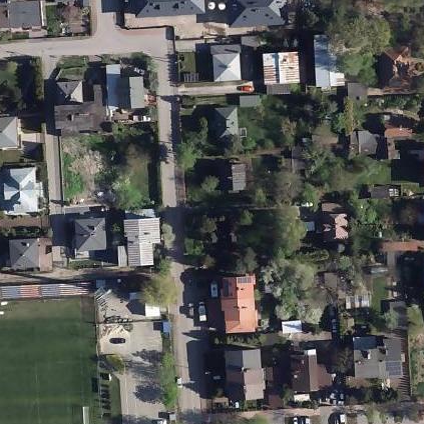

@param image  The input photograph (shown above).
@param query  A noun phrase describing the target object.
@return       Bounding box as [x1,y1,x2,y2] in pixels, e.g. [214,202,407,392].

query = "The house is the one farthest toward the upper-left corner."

[0,1,48,35]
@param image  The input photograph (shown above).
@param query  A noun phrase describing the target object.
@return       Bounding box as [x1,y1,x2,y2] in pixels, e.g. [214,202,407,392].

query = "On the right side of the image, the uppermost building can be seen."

[225,0,289,28]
